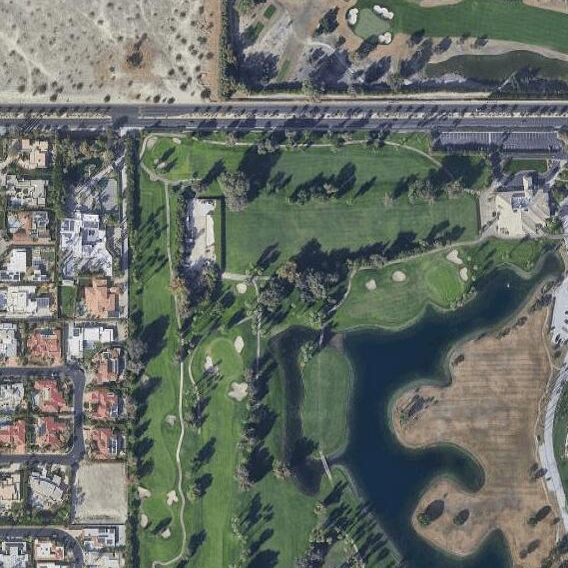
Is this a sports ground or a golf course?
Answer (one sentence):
This looks like a golf course.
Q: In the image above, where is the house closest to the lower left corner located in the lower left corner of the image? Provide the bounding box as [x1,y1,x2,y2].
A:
[0,542,27,568]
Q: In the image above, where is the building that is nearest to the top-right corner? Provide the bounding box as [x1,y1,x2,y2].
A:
[497,176,551,235]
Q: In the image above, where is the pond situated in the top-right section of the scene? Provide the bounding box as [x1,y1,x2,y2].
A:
[426,50,568,82]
